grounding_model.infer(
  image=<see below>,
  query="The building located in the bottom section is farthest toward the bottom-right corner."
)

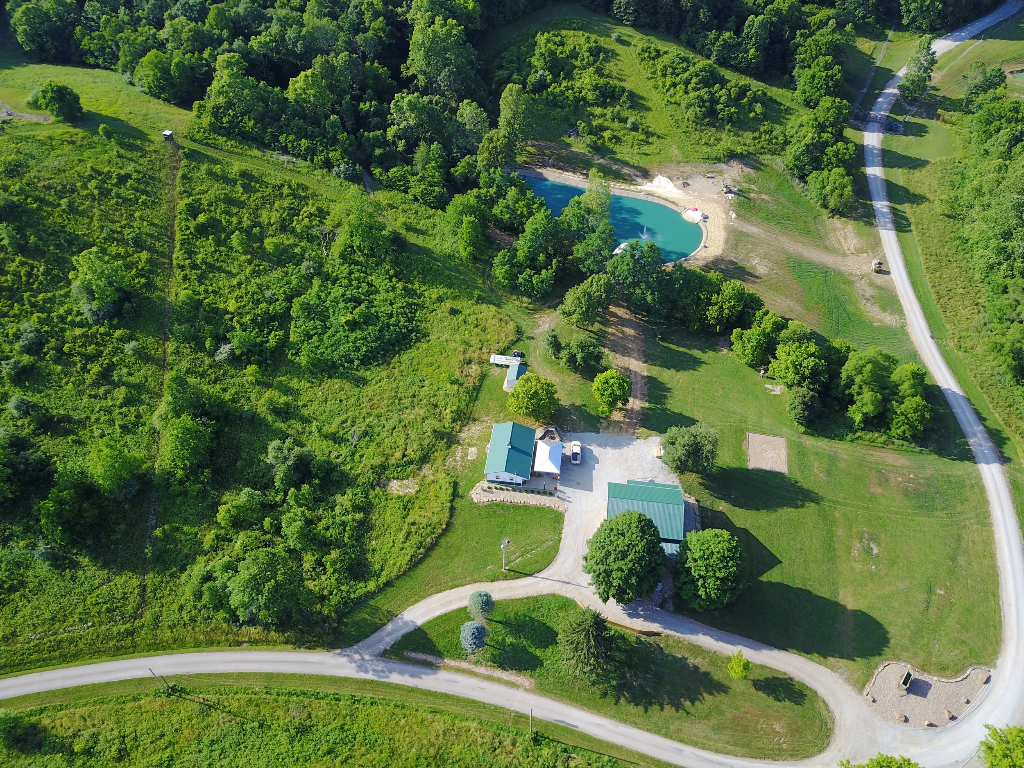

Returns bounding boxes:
[606,481,684,568]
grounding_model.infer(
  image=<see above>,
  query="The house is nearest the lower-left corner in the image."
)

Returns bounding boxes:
[483,421,537,485]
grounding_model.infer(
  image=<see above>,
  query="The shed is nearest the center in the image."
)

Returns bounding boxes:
[507,363,527,388]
